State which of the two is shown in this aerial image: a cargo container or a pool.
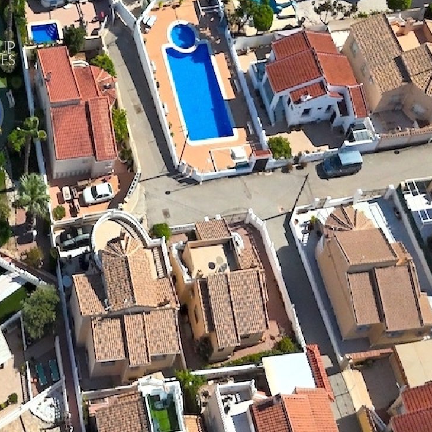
pool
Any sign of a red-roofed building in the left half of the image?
Yes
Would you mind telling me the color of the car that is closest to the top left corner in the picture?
white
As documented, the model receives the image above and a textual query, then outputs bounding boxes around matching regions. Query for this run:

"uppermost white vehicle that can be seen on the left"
[80,180,117,203]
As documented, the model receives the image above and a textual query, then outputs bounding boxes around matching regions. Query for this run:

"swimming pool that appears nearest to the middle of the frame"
[161,39,240,145]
